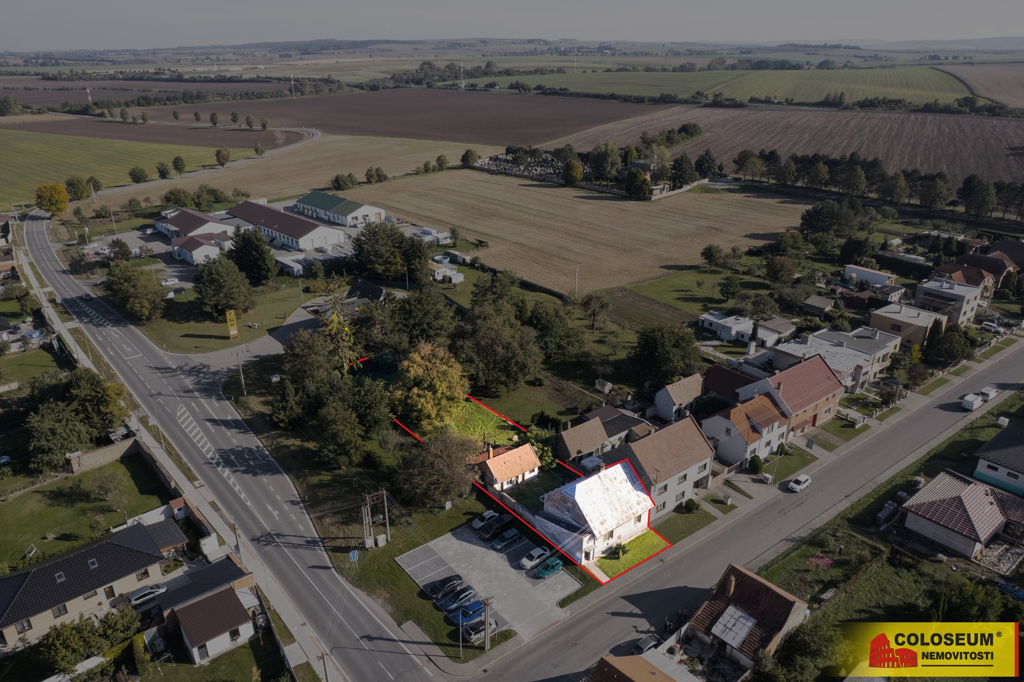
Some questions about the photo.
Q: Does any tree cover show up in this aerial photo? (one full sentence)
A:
Yes, tree cover can be seen from above here.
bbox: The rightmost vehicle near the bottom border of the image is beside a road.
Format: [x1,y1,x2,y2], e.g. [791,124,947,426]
[633,630,665,654]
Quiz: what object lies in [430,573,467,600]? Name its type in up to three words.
car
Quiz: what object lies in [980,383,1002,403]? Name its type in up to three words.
vehicle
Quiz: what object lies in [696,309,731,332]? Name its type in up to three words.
building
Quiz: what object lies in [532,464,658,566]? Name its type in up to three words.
house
